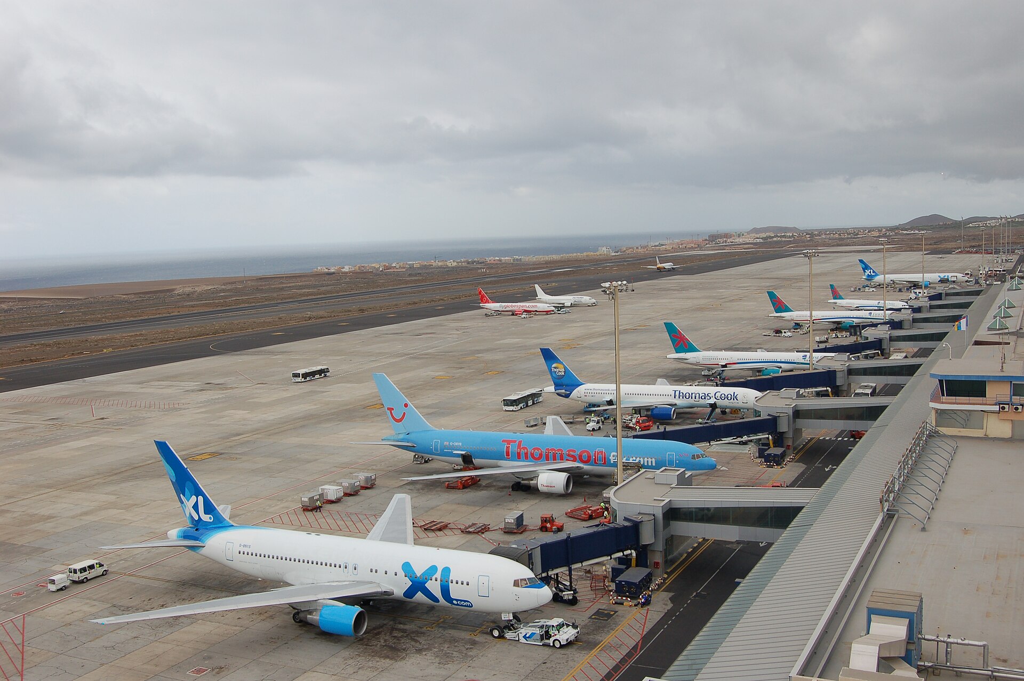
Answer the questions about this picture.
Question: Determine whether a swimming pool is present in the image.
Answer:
No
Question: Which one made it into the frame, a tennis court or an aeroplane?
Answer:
aeroplane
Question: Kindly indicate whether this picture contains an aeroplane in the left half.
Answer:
Yes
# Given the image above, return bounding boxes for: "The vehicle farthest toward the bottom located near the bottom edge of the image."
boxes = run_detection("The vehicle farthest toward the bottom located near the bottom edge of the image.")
[477,614,576,650]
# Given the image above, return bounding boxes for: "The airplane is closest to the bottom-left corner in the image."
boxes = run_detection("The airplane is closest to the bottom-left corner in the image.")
[81,440,554,636]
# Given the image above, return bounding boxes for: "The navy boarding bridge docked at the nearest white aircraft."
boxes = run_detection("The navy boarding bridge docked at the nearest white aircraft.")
[498,514,658,608]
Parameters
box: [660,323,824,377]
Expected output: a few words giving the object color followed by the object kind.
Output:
white airplane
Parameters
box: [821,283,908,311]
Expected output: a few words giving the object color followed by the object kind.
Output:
white airplane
